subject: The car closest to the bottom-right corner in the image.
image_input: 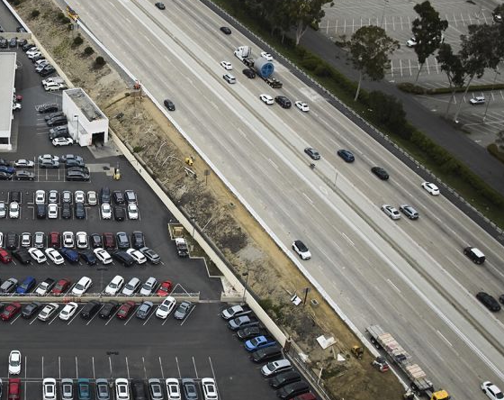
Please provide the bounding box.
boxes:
[478,382,504,400]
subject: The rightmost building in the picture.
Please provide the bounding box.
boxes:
[63,88,109,145]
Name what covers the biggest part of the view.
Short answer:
paved ground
